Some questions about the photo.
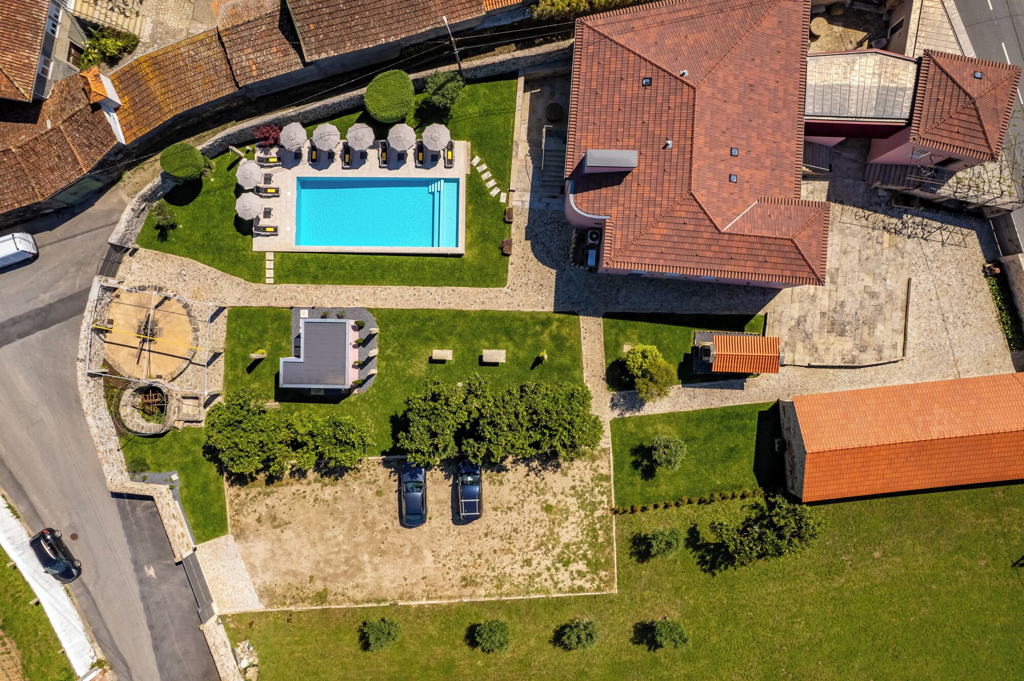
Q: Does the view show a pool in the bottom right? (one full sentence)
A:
No, there is no pool in the bottom right.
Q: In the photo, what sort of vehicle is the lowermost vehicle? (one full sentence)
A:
Looking closely, the lowermost vehicle is an automobile.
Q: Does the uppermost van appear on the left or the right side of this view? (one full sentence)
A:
The uppermost van sits on the left side.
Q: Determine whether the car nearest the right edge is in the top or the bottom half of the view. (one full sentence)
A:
The car nearest the right edge sits in the bottom half of the picture.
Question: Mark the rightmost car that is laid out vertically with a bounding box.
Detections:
[455,460,484,524]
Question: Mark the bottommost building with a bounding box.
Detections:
[779,374,1024,510]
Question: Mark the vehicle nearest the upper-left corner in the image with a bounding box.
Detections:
[0,232,36,270]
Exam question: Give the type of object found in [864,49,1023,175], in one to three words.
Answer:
house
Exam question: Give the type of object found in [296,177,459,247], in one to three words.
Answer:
swimming pool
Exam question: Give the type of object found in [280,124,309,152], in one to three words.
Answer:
umbrella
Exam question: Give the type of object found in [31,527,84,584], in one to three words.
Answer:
car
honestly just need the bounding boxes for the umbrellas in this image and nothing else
[423,123,451,152]
[236,192,265,221]
[314,123,343,152]
[280,124,309,152]
[349,124,377,153]
[237,162,267,191]
[389,125,418,154]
